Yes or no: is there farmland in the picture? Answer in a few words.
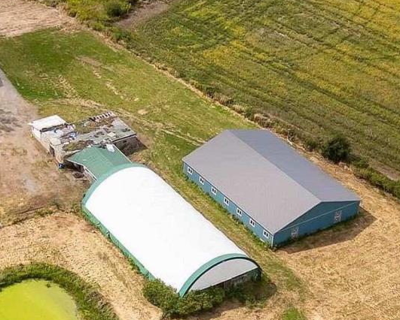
Yes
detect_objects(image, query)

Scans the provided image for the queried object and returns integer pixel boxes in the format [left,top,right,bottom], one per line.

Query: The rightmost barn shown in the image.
[182,128,362,246]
